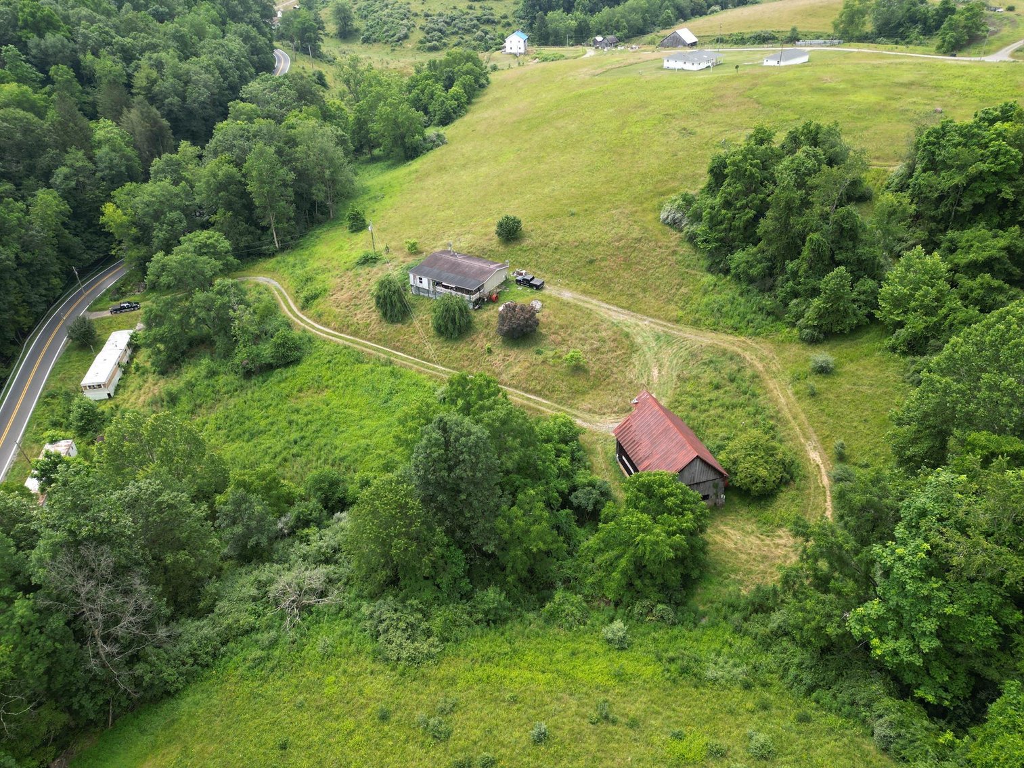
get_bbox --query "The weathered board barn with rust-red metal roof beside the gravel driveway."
[615,390,728,514]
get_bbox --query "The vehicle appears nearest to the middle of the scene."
[514,274,547,289]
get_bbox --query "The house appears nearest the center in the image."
[408,245,502,311]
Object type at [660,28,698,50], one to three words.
barn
